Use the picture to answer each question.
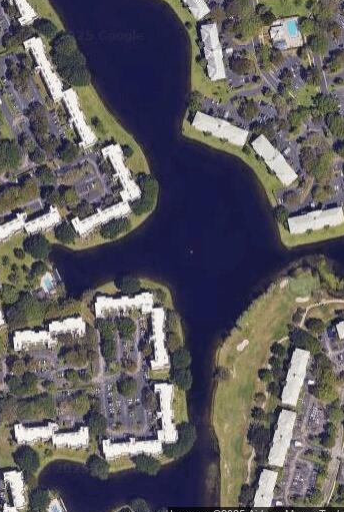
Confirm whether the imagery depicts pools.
Yes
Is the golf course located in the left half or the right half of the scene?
right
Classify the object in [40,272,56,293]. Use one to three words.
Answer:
swimming pool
